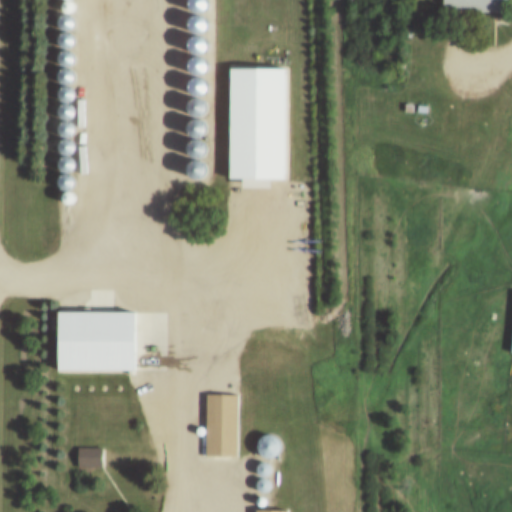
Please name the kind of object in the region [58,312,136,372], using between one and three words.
shed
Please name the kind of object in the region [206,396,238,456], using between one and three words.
shed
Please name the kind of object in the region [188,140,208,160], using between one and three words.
silo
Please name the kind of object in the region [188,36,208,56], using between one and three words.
silo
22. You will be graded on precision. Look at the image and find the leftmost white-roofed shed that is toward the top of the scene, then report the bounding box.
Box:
[230,68,288,180]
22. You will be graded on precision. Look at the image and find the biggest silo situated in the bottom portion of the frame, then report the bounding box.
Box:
[257,434,284,460]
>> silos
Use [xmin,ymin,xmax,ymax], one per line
[58,69,76,86]
[58,104,76,122]
[58,174,76,191]
[188,160,208,180]
[58,34,76,52]
[58,121,76,139]
[62,190,78,207]
[188,57,208,77]
[188,140,208,160]
[58,138,76,156]
[188,78,208,98]
[256,462,274,479]
[256,478,274,496]
[58,86,76,104]
[188,36,208,56]
[58,51,76,69]
[188,16,208,36]
[58,16,76,34]
[257,434,284,460]
[188,0,208,16]
[188,118,208,139]
[62,0,79,17]
[58,156,76,174]
[188,98,208,118]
